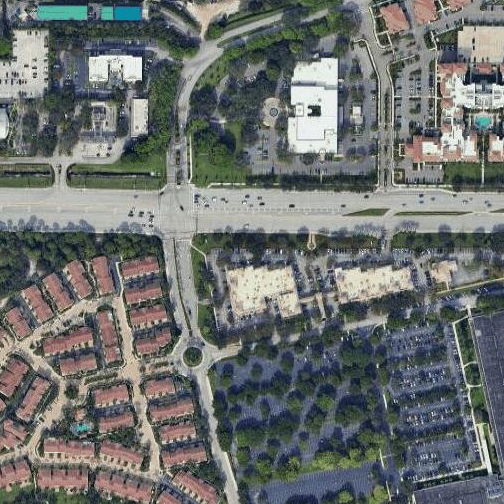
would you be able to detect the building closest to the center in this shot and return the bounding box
[228,266,301,318]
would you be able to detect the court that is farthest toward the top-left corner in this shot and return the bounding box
[37,5,87,20]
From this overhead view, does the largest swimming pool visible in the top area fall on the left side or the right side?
right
